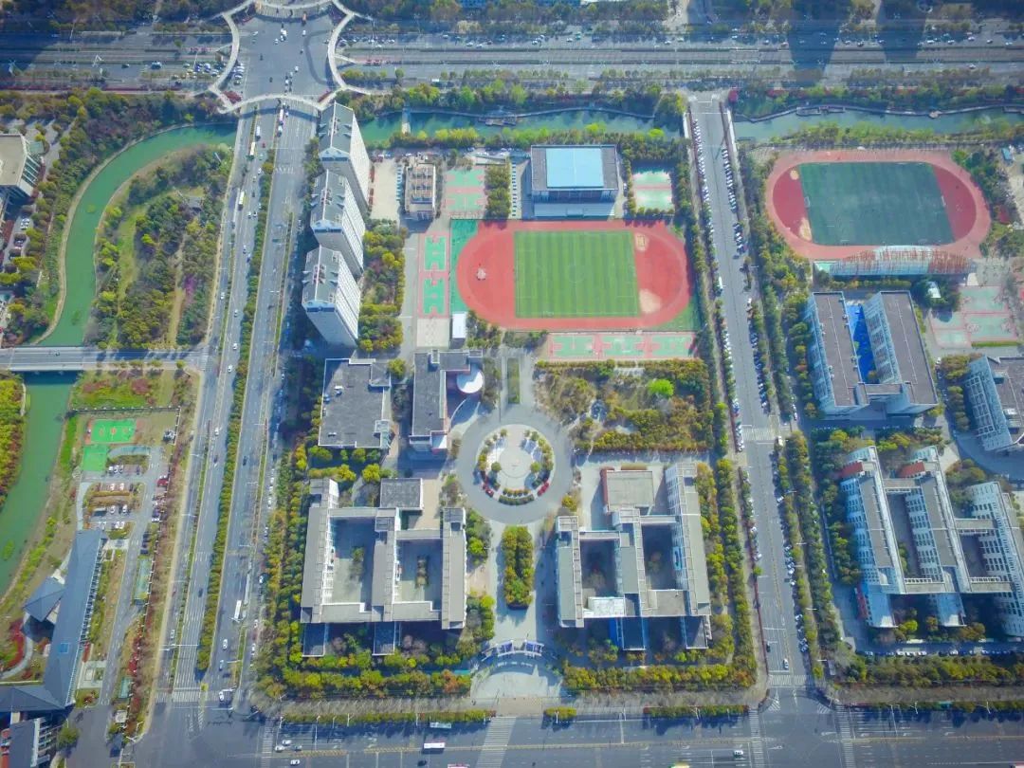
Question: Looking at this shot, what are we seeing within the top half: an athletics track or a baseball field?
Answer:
athletics track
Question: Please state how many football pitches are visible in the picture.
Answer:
2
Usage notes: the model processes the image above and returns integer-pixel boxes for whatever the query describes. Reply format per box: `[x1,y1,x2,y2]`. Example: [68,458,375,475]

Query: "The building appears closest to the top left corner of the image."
[0,133,39,196]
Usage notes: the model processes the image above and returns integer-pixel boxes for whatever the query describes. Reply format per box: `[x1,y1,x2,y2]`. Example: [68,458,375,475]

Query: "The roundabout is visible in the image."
[474,425,555,505]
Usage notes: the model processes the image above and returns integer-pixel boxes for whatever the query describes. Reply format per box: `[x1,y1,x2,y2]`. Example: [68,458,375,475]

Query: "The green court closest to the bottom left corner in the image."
[81,446,108,470]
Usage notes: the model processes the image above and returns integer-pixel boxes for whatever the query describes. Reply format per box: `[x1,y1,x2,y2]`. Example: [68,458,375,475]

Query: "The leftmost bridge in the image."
[9,346,95,373]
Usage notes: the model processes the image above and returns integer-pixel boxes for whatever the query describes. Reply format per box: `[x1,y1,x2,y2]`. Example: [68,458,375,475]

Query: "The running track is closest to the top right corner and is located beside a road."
[765,149,990,272]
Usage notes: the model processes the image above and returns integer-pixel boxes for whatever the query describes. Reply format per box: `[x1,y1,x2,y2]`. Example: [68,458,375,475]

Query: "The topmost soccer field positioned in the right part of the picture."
[799,160,957,246]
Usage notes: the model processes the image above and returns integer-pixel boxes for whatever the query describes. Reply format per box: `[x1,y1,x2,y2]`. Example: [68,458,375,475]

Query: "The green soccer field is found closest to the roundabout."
[514,230,641,316]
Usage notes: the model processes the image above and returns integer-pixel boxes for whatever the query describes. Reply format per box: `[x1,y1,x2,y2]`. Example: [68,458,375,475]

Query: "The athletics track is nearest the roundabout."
[449,219,700,331]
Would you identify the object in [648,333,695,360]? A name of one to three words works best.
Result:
basketball court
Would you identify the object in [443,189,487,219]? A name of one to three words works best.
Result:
basketball court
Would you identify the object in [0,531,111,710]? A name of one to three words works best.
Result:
building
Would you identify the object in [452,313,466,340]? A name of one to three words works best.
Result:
shed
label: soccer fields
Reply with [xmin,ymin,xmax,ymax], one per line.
[799,160,957,246]
[514,230,641,316]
